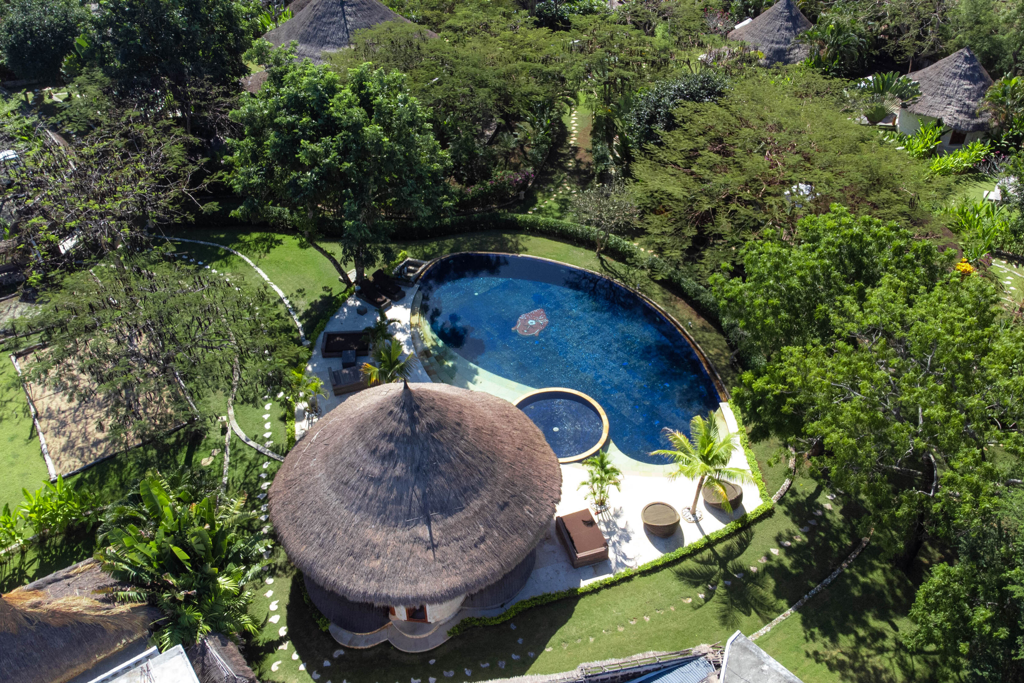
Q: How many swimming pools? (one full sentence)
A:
Altogether the scene contains 2 swimming pools.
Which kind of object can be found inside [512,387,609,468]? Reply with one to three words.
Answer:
swimming pool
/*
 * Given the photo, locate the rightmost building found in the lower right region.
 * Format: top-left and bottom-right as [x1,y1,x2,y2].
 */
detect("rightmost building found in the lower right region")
[718,628,802,683]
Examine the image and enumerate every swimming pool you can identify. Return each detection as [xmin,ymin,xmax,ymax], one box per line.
[512,387,609,468]
[411,250,728,477]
